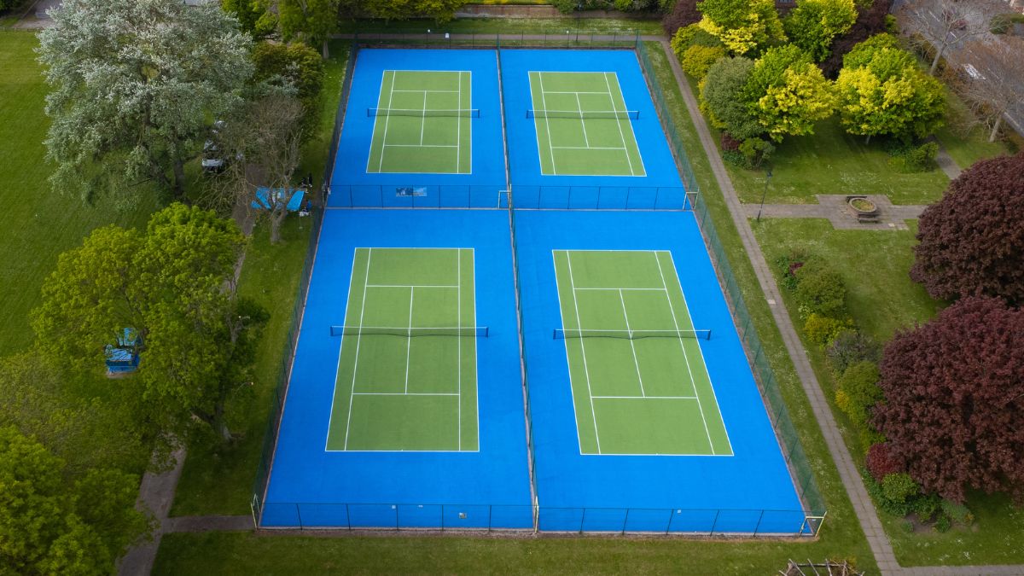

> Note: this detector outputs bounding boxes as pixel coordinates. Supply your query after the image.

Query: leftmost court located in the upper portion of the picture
[327,48,509,207]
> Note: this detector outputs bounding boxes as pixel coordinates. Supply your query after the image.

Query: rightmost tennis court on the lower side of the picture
[513,209,812,532]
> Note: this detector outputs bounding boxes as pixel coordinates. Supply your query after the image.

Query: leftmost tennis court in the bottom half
[260,208,534,530]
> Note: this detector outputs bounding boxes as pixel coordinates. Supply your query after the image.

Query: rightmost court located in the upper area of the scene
[501,48,693,208]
